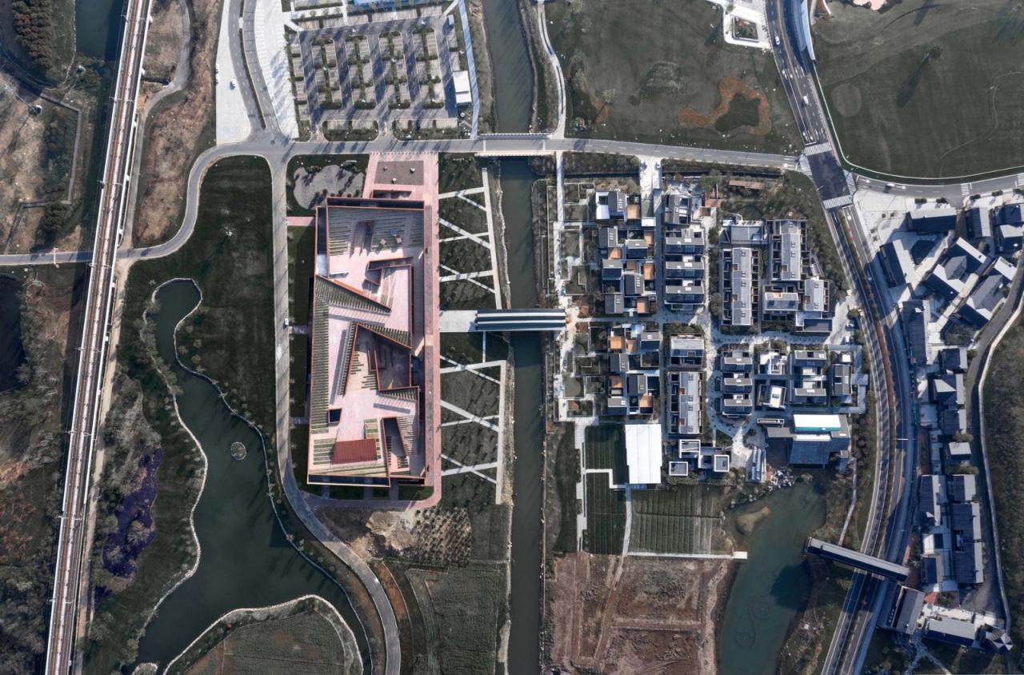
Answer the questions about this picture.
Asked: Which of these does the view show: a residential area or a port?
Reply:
residential area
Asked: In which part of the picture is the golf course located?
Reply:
top right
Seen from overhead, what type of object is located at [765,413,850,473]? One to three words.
building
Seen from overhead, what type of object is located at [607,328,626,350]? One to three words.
house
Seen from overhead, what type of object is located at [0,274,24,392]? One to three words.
pond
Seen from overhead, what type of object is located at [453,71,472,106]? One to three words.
building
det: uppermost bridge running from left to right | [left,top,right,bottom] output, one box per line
[477,132,553,157]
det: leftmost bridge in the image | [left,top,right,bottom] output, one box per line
[43,0,155,675]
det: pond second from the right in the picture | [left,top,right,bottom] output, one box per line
[121,279,371,675]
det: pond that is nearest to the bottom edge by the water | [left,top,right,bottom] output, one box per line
[720,480,826,675]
